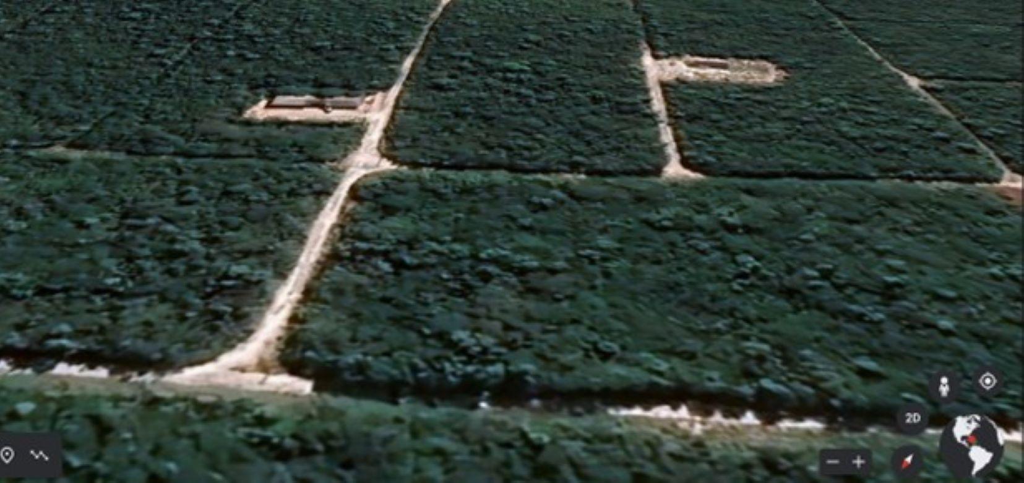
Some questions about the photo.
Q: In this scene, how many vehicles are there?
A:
zero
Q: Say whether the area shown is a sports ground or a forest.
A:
forest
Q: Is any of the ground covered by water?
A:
No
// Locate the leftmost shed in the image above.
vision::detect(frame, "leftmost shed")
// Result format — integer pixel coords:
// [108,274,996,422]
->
[268,95,329,110]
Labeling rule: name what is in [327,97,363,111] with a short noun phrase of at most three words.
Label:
shed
